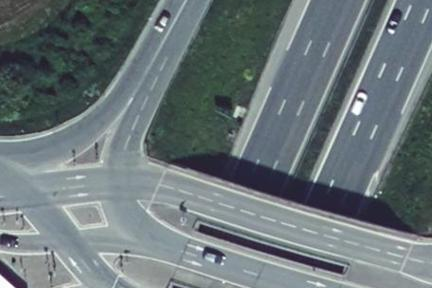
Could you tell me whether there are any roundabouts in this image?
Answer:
No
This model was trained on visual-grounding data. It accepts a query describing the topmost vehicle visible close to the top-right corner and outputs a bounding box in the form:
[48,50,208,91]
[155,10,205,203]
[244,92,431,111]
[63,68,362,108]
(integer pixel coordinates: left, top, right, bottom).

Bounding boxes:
[385,8,402,32]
